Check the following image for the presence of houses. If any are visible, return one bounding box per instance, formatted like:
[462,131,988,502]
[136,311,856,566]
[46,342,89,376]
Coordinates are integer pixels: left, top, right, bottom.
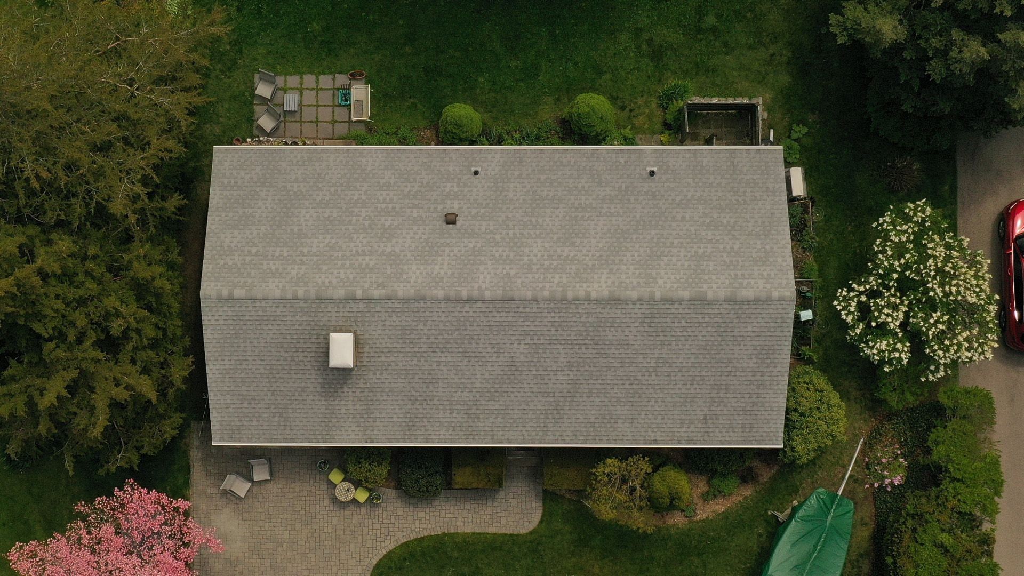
[199,145,796,447]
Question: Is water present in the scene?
No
